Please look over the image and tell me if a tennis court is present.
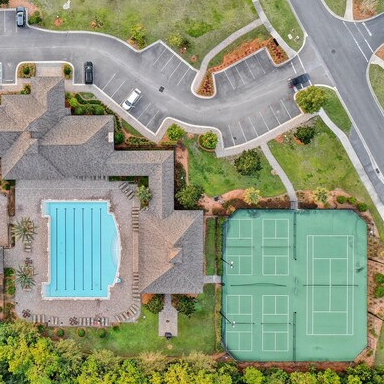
Yes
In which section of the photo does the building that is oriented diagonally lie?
left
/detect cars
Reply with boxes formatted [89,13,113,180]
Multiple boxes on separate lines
[288,73,310,87]
[16,8,25,27]
[124,88,142,109]
[84,63,93,85]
